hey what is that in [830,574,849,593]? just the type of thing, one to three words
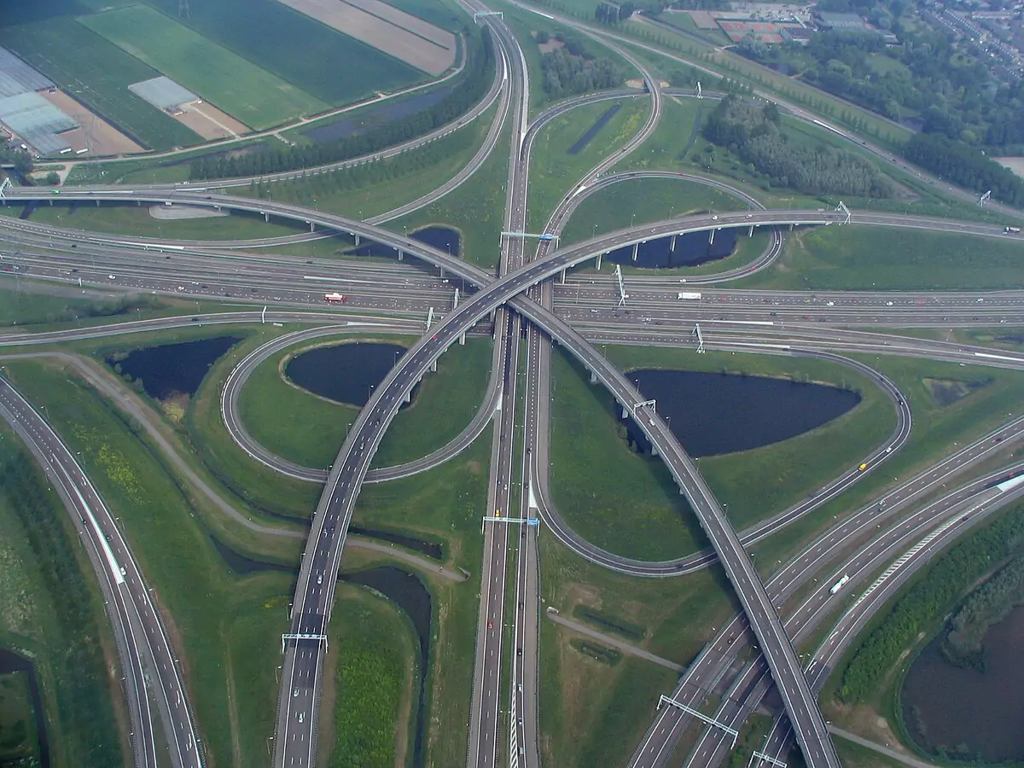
vehicle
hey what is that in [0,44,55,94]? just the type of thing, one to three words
greenhouse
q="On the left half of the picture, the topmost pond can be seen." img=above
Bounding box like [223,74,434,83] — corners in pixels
[343,225,463,263]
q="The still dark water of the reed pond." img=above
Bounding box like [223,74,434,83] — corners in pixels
[108,335,242,399]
